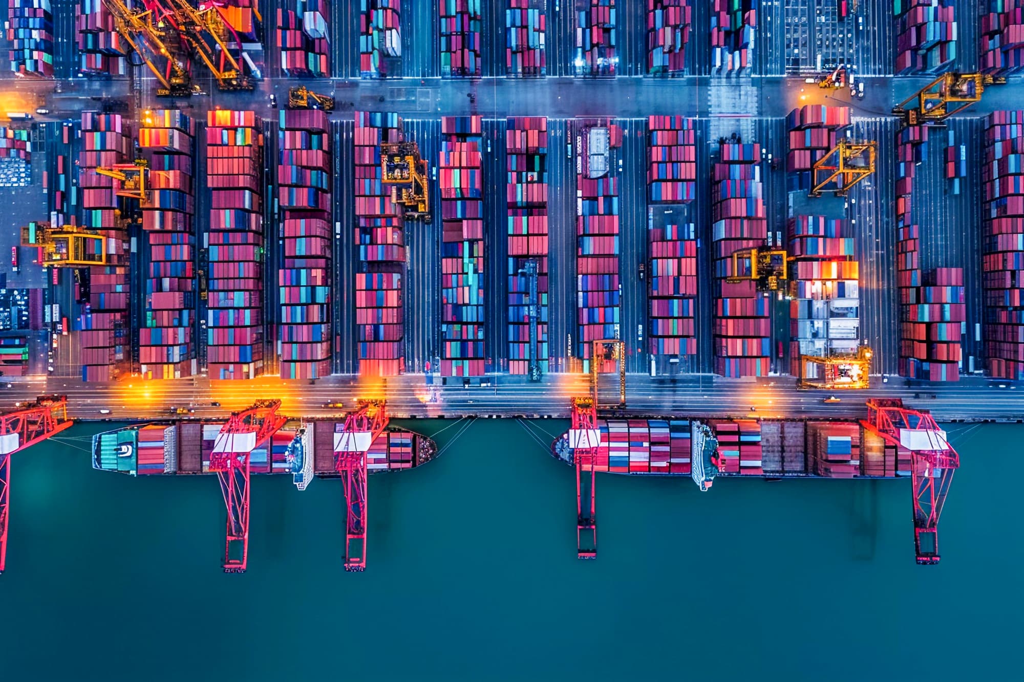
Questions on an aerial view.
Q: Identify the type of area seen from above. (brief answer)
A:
port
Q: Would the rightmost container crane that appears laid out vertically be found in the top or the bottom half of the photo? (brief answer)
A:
bottom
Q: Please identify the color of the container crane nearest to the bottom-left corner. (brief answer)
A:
red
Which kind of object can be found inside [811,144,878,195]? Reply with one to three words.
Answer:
container crane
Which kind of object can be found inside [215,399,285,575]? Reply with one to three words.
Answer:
container crane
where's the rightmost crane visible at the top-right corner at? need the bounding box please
[894,68,982,122]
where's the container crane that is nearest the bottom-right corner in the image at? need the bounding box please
[871,399,956,570]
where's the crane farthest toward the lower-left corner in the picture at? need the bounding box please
[0,399,74,575]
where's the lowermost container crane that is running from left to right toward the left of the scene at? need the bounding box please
[20,227,137,270]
